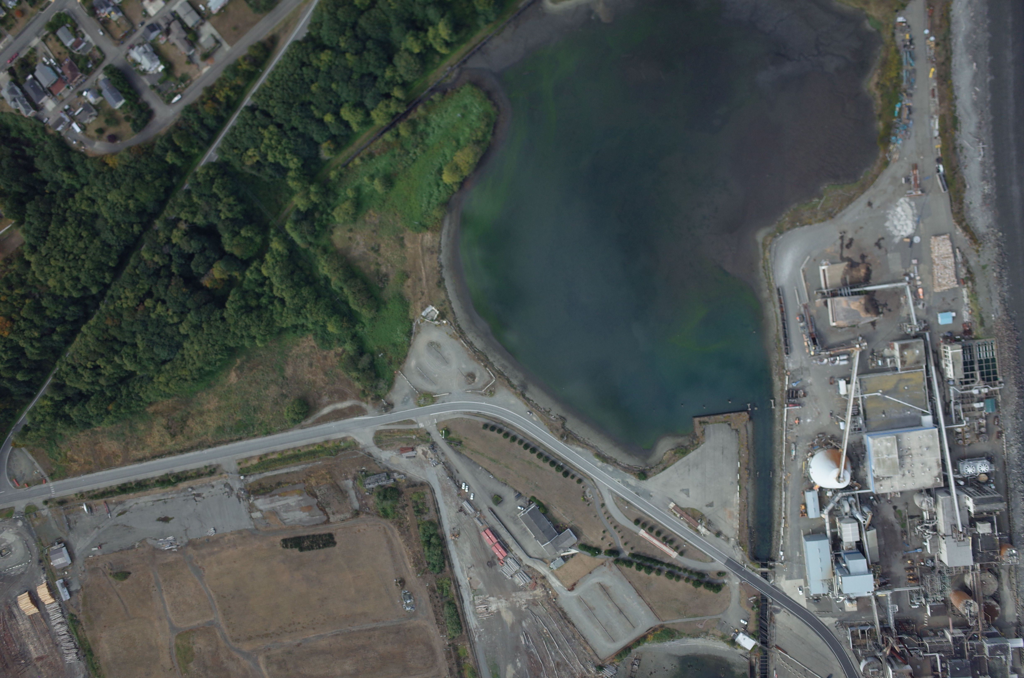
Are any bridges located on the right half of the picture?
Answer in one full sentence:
Yes, a bridge is visible on the right half of the picture.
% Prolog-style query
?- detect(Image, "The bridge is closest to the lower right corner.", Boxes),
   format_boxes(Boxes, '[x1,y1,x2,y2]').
[726,558,782,604]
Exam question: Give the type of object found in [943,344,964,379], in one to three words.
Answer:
building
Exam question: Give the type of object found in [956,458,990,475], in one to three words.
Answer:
cooling tower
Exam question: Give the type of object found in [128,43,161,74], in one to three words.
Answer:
house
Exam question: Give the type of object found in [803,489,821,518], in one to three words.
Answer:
shed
